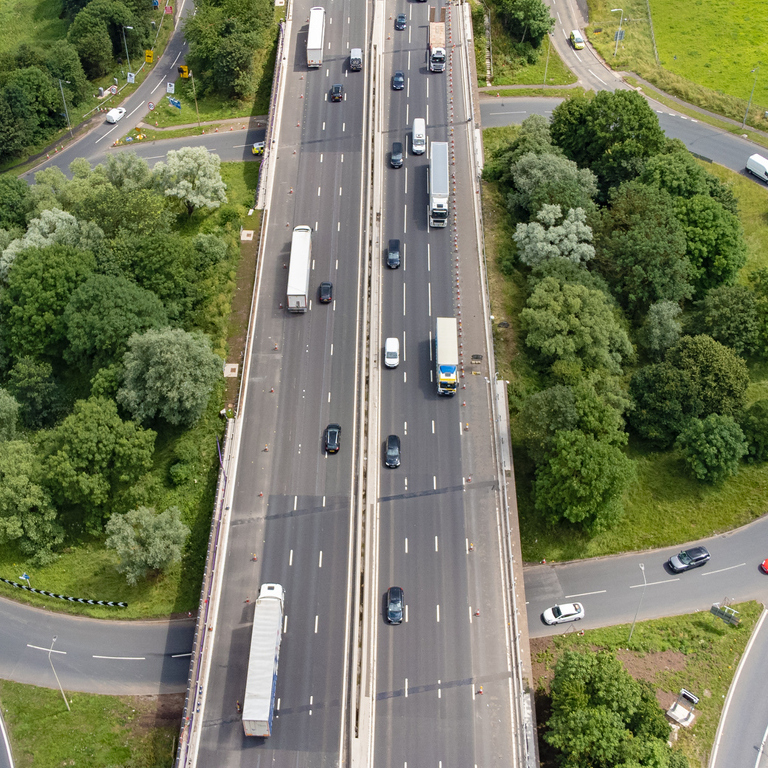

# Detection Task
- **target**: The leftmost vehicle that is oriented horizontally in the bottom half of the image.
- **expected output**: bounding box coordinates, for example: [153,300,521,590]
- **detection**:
[543,601,584,620]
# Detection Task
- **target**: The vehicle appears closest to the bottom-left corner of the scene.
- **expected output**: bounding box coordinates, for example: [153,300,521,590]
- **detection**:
[242,584,284,735]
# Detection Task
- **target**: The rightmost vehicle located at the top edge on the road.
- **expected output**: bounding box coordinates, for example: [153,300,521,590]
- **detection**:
[568,30,586,50]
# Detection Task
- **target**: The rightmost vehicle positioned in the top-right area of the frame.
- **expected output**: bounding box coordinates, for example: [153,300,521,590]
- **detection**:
[740,157,768,185]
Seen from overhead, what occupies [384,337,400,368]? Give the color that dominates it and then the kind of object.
white vehicle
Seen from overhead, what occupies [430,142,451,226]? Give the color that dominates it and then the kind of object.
white truck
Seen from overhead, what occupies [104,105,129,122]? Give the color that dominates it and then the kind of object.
white vehicle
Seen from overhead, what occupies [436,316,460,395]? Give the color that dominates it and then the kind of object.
white truck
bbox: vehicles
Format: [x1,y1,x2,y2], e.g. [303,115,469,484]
[287,224,314,313]
[760,558,768,572]
[325,425,343,454]
[104,105,129,122]
[430,142,451,226]
[395,15,406,31]
[669,544,711,571]
[543,601,584,620]
[430,4,448,71]
[319,281,334,305]
[384,436,403,469]
[385,587,405,626]
[384,337,400,368]
[740,157,768,185]
[331,86,344,103]
[392,74,405,91]
[390,142,404,167]
[386,238,402,268]
[307,6,327,66]
[568,30,586,50]
[242,584,284,735]
[436,316,460,395]
[412,119,426,152]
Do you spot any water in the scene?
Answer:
No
